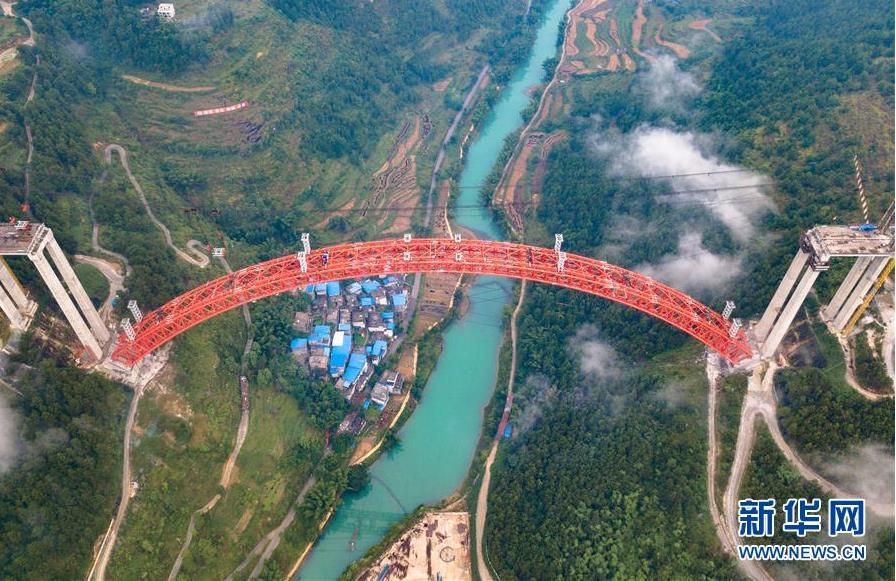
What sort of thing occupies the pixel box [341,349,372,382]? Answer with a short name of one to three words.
house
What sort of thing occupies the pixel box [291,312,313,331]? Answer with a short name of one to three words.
house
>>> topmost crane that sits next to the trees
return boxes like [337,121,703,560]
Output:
[854,155,879,231]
